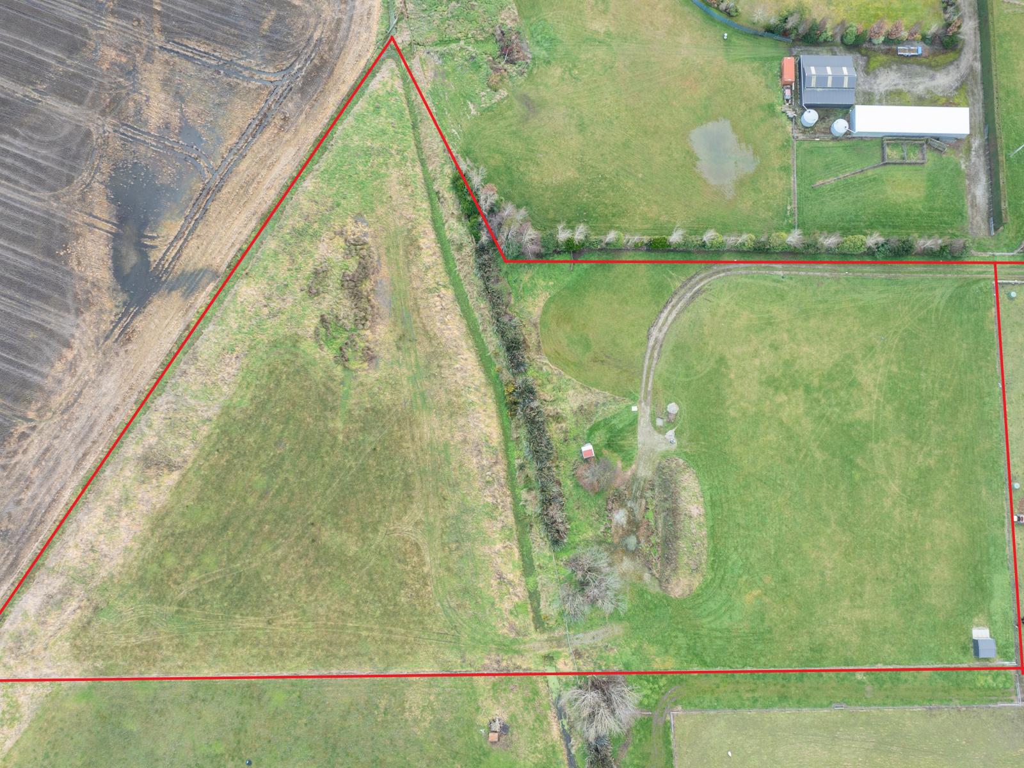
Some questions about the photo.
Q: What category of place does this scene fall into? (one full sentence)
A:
What you see here is farmland.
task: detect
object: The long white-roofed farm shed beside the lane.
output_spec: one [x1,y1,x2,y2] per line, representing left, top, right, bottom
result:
[845,104,971,137]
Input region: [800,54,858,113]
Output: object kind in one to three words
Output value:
shed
